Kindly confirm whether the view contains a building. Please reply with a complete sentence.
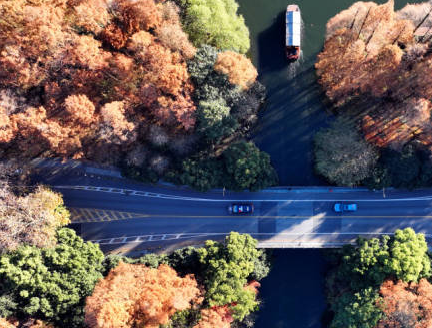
No, the picture doesn't show any building.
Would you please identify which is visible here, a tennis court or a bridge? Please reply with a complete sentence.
The one in the frame is a bridge.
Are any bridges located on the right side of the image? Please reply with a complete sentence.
Yes, there is a bridge on the right side of the image.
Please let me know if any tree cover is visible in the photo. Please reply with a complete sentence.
Yes, there's tree cover in this view.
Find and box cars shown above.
[229,203,254,215]
[334,201,357,213]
